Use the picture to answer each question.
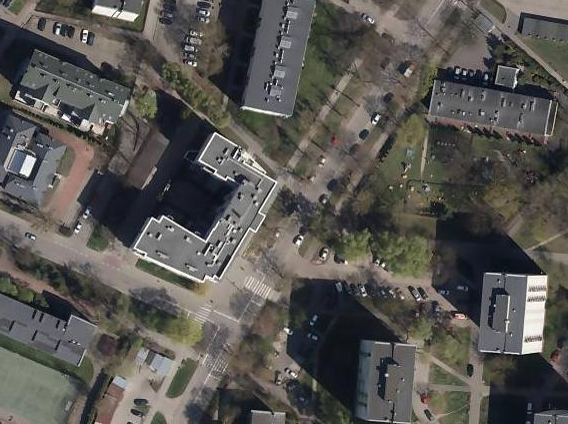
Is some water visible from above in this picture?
No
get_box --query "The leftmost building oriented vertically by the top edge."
[241,0,314,119]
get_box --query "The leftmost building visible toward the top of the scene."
[0,115,66,208]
